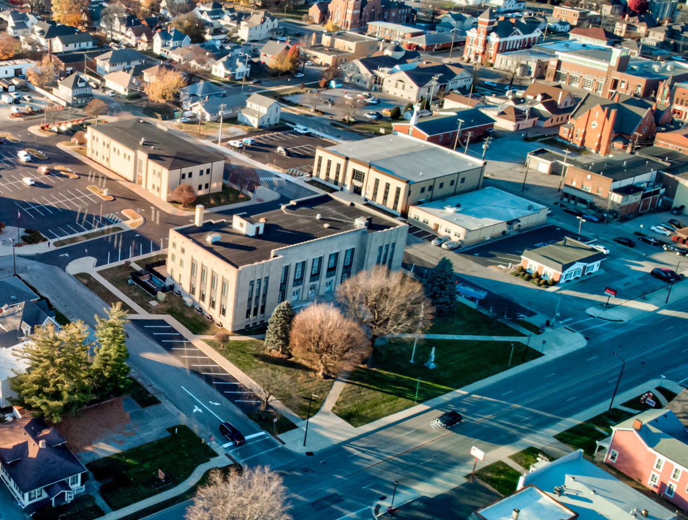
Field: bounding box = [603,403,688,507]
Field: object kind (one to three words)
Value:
house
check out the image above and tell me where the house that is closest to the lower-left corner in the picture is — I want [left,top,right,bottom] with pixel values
[0,417,92,507]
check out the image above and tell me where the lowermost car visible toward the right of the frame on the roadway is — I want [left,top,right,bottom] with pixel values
[432,412,460,429]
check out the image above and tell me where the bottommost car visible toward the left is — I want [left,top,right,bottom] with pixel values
[218,422,247,445]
